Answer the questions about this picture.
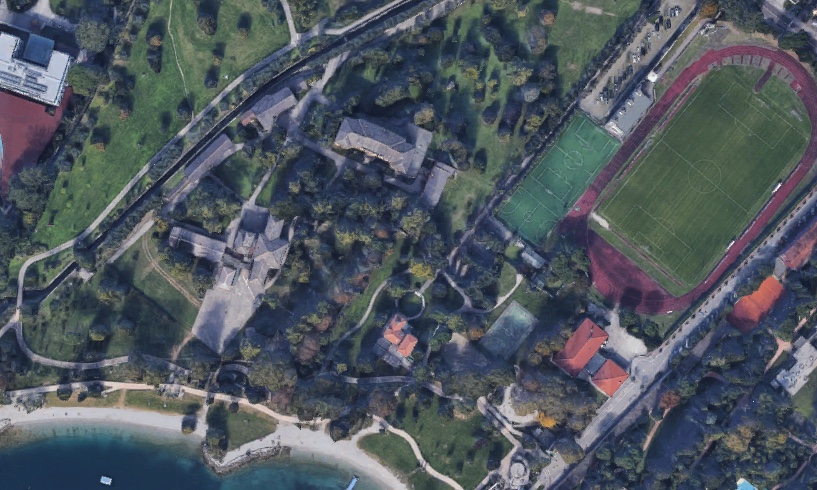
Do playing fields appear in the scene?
Yes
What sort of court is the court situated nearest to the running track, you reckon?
tennis court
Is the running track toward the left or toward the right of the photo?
right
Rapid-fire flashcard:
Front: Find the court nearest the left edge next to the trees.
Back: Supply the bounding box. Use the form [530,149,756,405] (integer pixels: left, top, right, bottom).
[0,86,74,197]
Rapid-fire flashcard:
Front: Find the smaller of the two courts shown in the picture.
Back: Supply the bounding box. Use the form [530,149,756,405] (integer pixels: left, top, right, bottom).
[480,301,538,359]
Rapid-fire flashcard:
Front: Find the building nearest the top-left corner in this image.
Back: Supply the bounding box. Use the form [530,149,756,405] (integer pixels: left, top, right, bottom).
[0,33,74,105]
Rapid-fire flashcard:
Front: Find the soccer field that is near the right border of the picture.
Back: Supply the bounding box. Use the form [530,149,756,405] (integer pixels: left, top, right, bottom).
[590,66,815,296]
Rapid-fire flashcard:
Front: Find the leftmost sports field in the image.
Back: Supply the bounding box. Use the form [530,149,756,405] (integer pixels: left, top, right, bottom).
[498,112,622,246]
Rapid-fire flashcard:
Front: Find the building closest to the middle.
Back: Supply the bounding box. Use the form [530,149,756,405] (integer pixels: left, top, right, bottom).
[420,163,457,208]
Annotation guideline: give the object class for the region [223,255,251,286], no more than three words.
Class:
building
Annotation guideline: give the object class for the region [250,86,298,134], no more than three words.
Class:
house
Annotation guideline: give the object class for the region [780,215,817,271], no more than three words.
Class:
house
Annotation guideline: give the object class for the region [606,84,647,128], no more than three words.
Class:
building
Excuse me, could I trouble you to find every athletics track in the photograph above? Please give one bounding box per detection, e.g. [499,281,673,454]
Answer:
[558,42,817,314]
